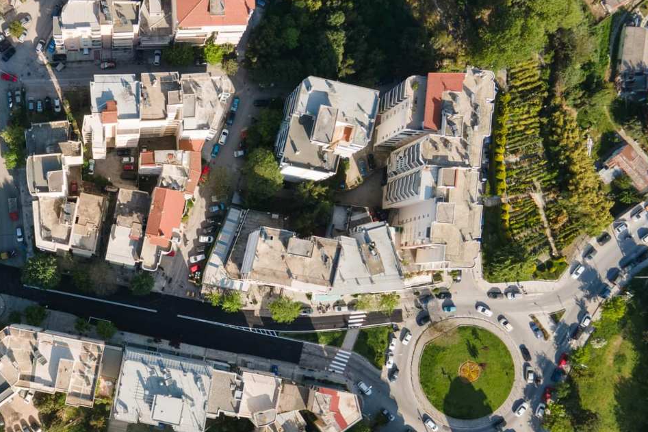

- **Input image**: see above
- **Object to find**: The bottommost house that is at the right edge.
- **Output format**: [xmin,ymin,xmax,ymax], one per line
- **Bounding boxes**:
[602,149,648,195]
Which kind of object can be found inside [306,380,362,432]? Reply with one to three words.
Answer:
building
